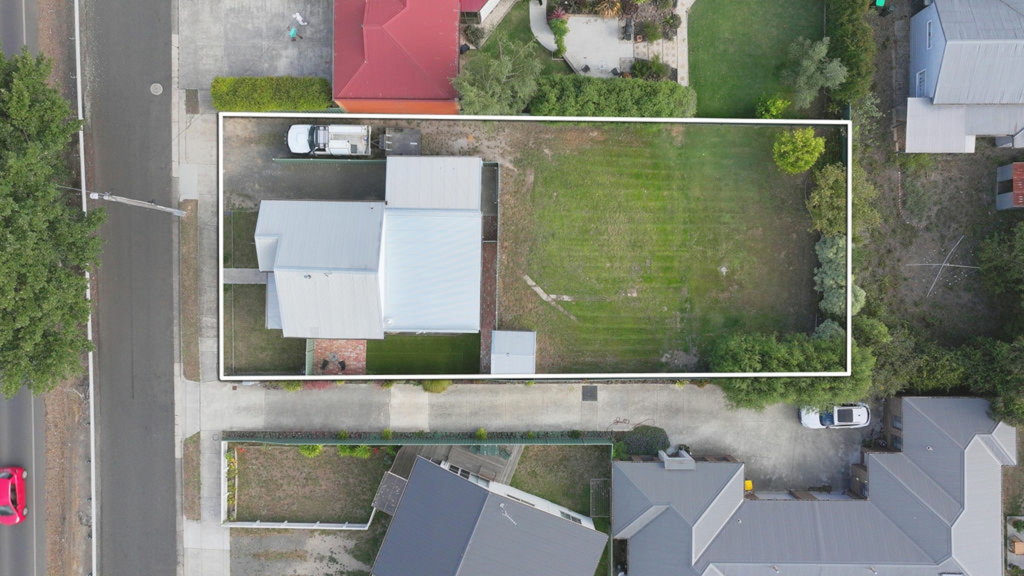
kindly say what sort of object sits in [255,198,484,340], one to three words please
house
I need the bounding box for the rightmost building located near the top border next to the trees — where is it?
[897,0,1024,154]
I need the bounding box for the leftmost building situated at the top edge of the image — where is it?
[332,0,463,114]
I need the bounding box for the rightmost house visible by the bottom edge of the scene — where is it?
[610,393,1018,576]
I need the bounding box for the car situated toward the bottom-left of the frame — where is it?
[0,468,29,528]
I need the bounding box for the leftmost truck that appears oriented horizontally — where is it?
[287,120,369,156]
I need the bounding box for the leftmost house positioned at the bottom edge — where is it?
[365,450,610,576]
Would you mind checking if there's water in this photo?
No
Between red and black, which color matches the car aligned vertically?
red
